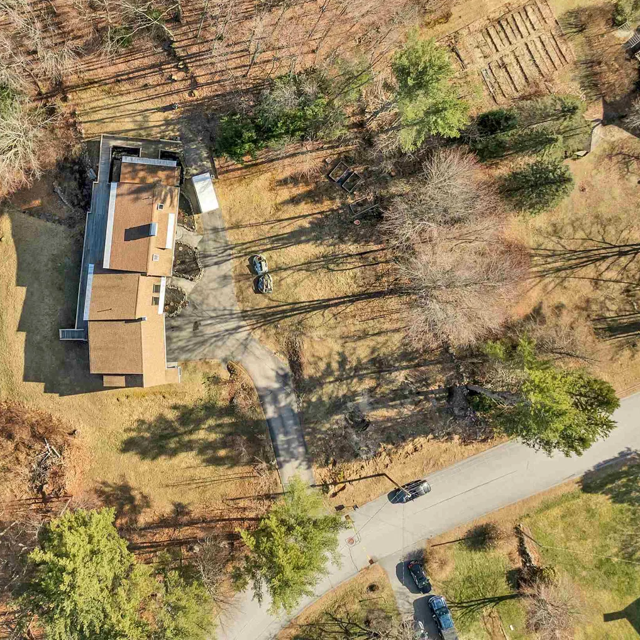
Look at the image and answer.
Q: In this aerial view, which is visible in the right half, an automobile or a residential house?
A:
automobile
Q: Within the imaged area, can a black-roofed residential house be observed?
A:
No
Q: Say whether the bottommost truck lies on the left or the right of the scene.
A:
right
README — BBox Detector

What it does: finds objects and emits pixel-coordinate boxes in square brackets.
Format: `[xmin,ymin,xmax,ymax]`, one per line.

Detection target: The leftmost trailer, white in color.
[192,172,222,220]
